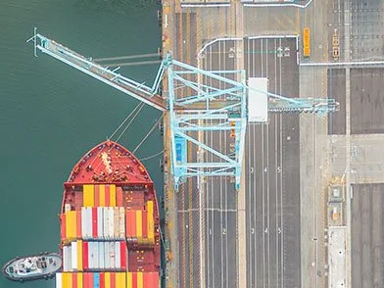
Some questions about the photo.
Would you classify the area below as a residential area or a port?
port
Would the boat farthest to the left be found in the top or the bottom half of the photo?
bottom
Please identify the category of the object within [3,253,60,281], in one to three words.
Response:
boat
